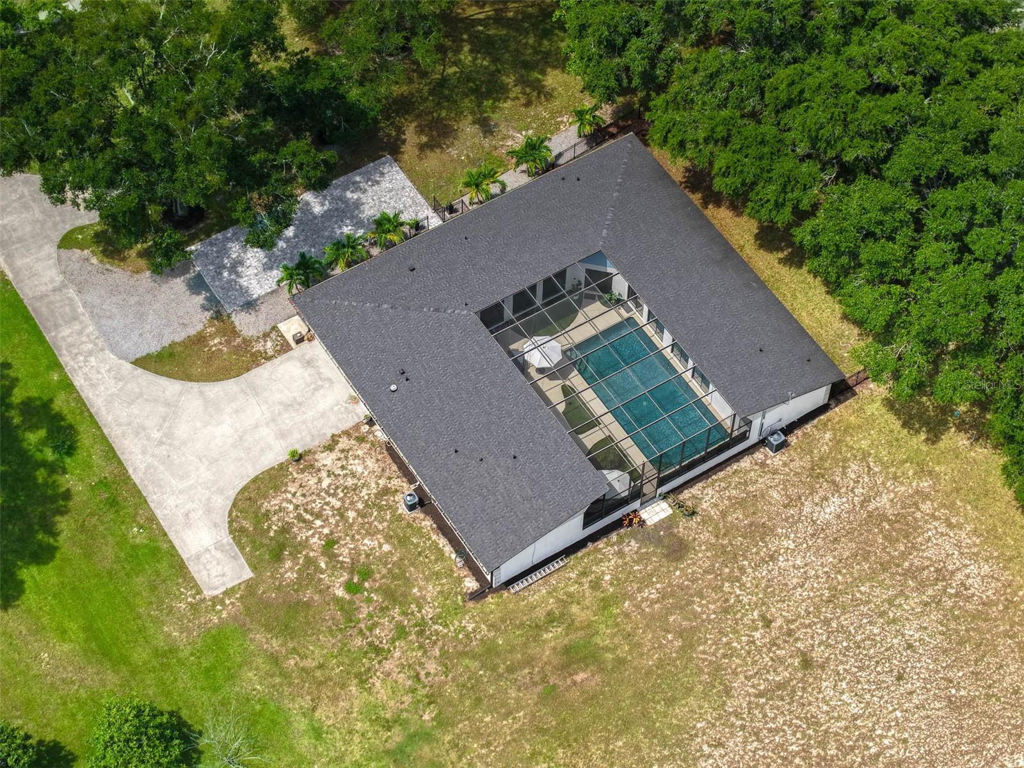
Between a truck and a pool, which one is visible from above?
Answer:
pool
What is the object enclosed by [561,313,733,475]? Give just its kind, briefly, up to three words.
swimming pool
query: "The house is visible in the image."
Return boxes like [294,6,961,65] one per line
[287,133,845,590]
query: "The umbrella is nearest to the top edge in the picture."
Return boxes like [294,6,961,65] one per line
[522,337,563,372]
